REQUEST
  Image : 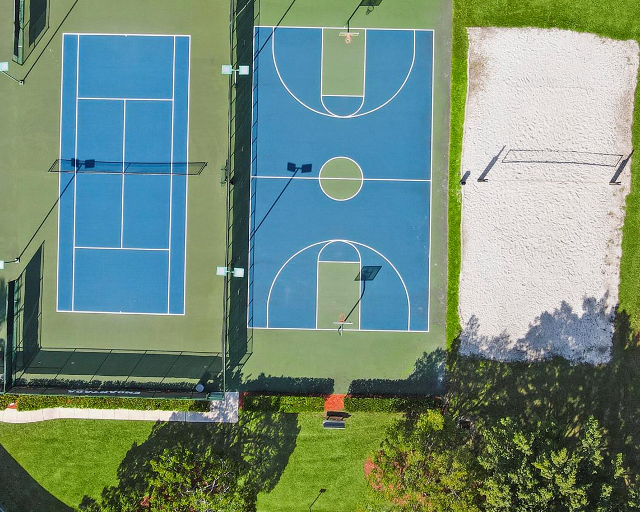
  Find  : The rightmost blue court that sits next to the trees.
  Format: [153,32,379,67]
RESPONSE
[225,0,453,395]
